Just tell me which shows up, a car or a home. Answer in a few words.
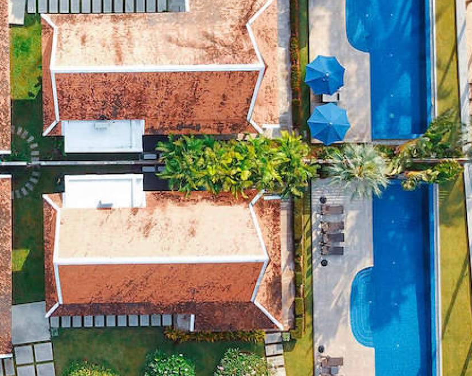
home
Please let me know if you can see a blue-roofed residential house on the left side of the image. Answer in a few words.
No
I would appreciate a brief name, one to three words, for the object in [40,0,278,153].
house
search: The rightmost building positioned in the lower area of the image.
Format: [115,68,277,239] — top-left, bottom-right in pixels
[41,174,286,333]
